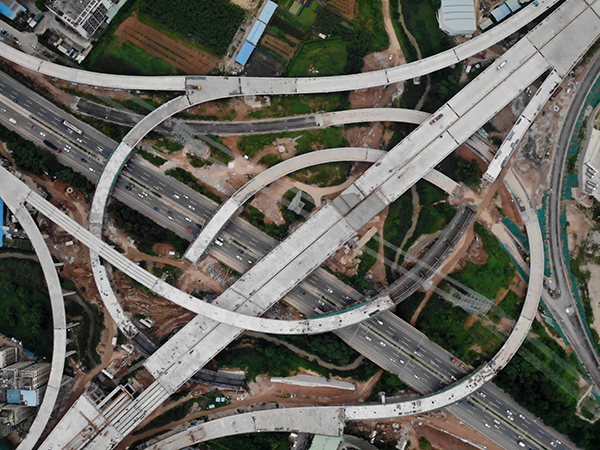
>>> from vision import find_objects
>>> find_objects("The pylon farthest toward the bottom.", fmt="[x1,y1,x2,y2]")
[435,278,492,318]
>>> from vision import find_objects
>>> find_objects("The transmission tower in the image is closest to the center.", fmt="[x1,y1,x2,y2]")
[285,190,308,216]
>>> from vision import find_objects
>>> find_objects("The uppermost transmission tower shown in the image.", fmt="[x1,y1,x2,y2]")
[173,118,218,161]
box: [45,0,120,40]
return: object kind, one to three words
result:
building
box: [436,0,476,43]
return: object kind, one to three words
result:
building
